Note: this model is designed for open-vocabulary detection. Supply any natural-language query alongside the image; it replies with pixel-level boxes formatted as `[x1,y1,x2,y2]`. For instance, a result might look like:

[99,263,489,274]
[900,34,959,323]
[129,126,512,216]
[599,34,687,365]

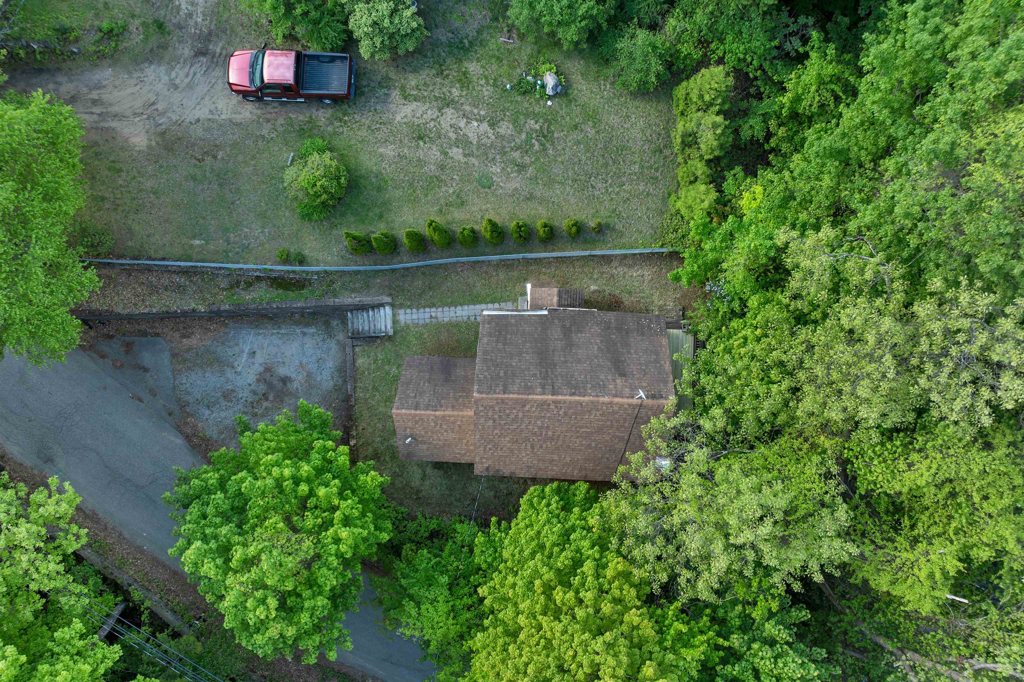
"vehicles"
[225,38,356,101]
